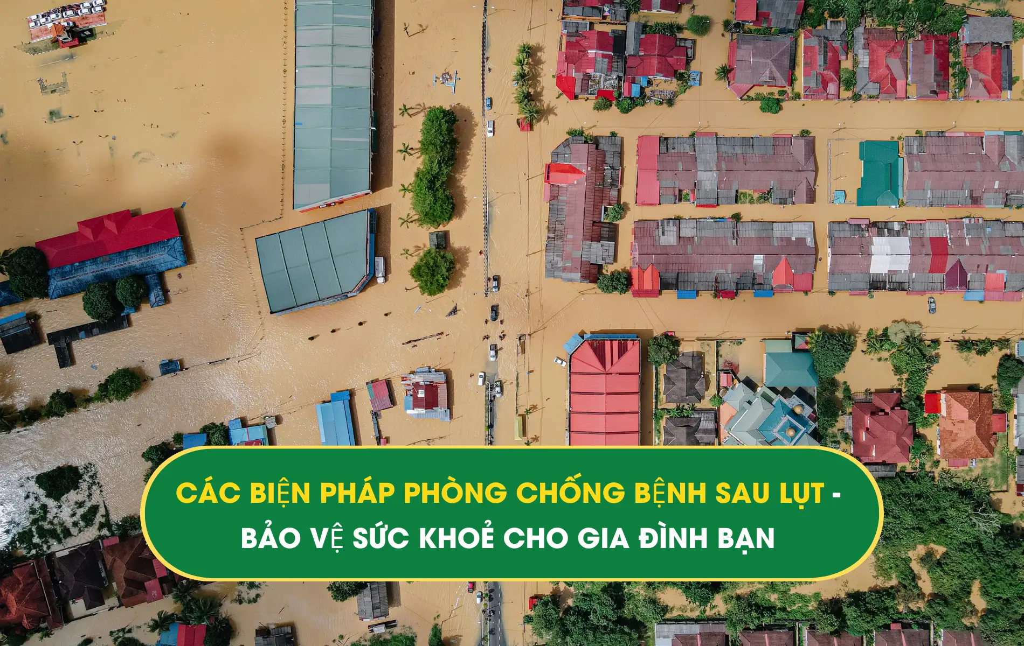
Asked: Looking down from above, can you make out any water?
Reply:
Yes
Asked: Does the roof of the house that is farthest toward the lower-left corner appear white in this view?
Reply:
No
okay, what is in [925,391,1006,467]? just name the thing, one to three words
house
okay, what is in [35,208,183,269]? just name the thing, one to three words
building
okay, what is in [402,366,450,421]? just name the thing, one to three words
shed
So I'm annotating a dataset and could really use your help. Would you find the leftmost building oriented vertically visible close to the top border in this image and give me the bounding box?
[293,0,377,212]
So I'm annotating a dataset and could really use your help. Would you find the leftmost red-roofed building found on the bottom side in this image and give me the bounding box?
[0,555,69,629]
